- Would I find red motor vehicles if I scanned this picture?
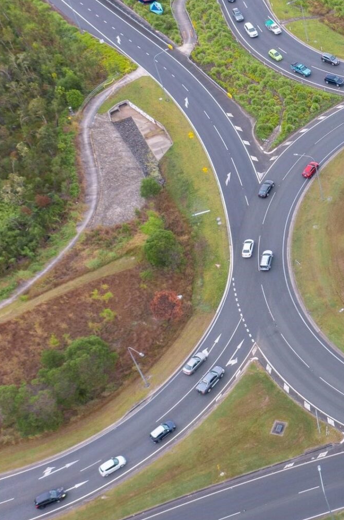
Yes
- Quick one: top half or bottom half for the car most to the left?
bottom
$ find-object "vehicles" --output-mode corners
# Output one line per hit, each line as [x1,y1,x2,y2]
[32,489,68,511]
[95,454,131,479]
[193,366,227,393]
[267,50,283,62]
[147,420,179,446]
[245,23,258,36]
[264,17,281,34]
[181,351,209,375]
[242,239,255,259]
[233,8,244,21]
[324,74,344,87]
[257,180,275,199]
[321,52,340,66]
[300,162,320,179]
[260,250,273,272]
[290,62,312,77]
